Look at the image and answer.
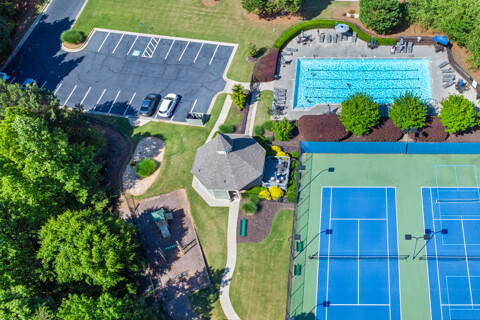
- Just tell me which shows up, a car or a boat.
car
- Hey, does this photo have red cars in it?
No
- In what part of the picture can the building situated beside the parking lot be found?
center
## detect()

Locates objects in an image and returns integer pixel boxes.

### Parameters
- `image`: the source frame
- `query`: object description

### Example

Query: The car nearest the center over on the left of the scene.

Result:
[158,94,181,118]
